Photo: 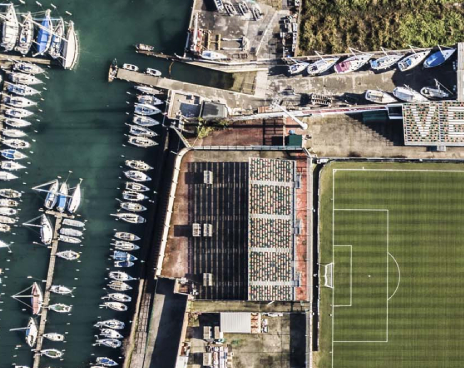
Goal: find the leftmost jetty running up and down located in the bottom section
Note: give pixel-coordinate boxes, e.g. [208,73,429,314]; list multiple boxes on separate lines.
[33,214,63,368]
